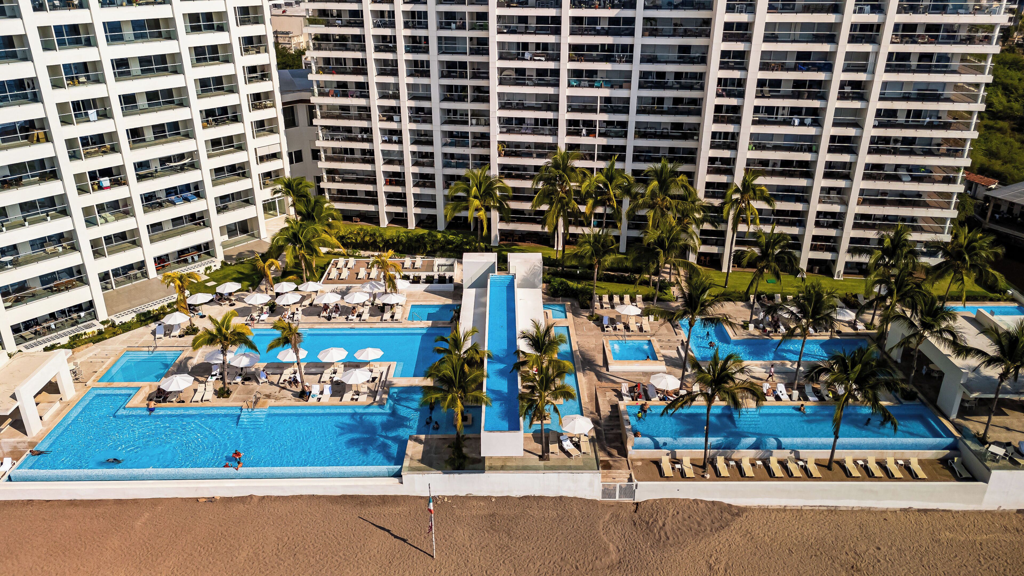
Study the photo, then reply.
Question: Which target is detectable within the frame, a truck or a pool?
pool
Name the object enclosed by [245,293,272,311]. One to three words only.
umbrella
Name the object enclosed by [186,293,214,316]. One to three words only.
umbrella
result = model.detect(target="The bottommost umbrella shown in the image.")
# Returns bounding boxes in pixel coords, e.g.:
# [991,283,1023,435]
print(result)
[558,413,593,434]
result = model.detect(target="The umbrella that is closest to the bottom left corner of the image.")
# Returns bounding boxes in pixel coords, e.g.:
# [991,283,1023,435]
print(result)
[160,374,195,402]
